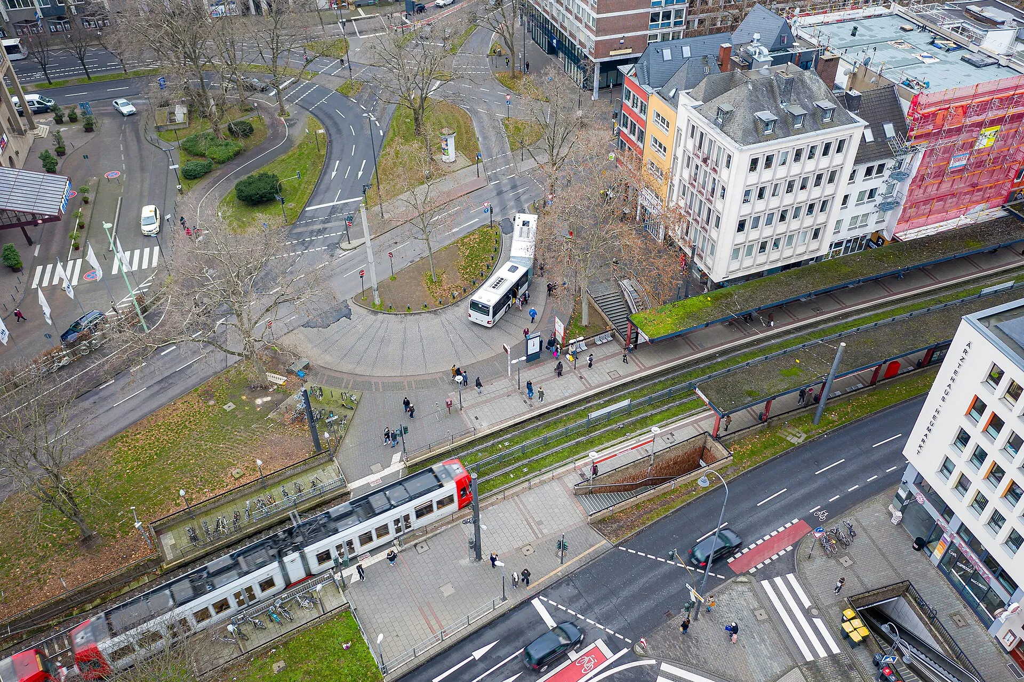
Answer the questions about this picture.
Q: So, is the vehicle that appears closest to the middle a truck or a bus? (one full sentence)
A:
It looks like the vehicle that appears closest to the middle is a bus.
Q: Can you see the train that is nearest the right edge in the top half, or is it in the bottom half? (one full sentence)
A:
You can find the train that is nearest the right edge in the bottom half.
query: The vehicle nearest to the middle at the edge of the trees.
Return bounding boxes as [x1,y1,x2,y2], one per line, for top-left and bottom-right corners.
[471,214,536,325]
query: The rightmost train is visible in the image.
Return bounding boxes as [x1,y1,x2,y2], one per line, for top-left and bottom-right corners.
[53,461,478,682]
